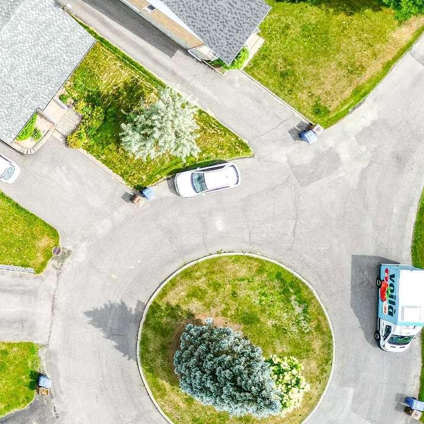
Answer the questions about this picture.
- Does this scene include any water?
No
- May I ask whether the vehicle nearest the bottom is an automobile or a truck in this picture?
truck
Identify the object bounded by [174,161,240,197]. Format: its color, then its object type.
white car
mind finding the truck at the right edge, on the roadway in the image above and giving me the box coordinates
[361,264,421,352]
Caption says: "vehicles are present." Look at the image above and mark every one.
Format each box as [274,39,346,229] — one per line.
[361,264,421,352]
[0,150,23,185]
[174,161,240,197]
